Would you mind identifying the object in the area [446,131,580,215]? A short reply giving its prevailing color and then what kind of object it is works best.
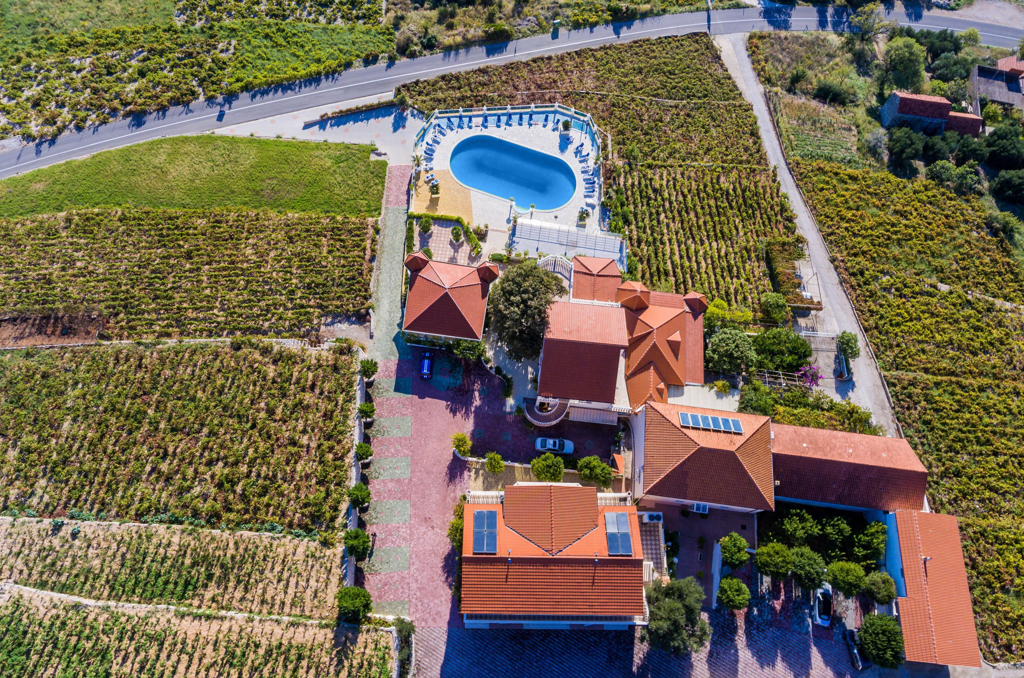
blue swimming pool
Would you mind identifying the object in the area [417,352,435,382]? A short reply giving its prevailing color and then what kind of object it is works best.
blue car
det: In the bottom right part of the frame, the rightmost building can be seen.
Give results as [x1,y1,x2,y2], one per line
[884,510,982,667]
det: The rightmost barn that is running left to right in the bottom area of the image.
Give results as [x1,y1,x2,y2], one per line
[771,423,928,510]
